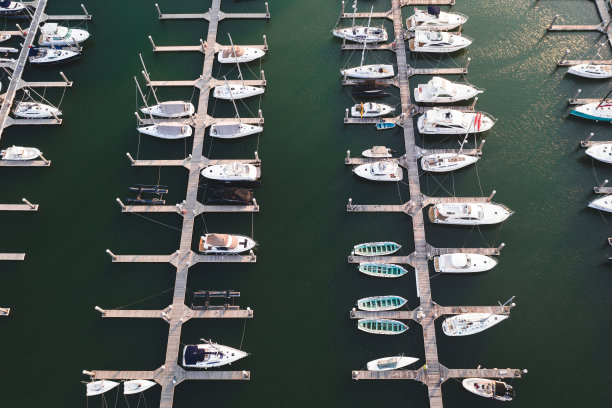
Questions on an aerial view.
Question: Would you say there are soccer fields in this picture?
No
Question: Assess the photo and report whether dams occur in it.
No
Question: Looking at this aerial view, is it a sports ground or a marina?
marina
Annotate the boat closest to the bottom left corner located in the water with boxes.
[84,381,119,395]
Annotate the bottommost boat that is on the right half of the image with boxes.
[463,378,513,401]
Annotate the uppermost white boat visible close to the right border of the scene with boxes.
[568,38,612,80]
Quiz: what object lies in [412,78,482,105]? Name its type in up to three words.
boat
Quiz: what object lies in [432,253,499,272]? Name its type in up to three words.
boat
